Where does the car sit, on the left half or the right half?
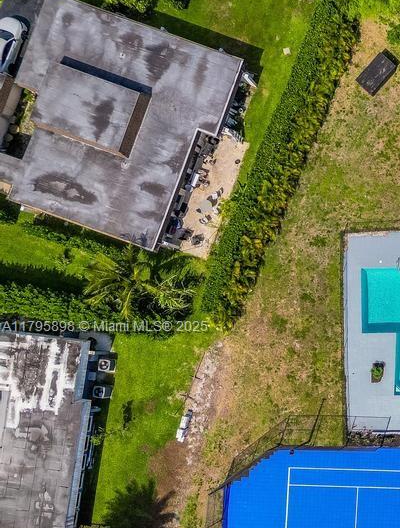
left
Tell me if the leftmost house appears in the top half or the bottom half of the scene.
bottom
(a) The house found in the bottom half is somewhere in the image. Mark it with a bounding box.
[0,334,99,528]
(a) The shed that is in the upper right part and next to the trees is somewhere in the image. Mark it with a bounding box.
[357,53,396,97]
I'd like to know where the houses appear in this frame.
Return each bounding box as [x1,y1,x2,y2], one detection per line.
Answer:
[0,0,245,251]
[0,334,99,528]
